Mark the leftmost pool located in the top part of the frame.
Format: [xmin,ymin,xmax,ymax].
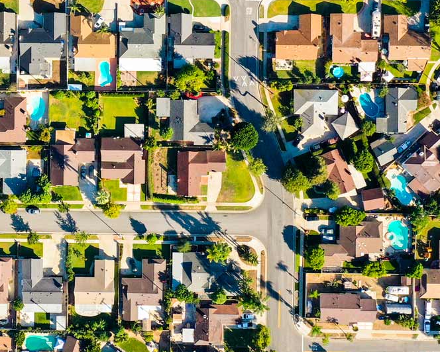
[31,96,47,122]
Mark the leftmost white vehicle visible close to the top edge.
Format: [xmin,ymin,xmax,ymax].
[93,14,106,31]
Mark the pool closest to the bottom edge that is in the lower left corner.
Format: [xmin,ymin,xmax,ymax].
[24,335,55,352]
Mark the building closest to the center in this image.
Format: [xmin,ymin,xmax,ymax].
[178,150,227,196]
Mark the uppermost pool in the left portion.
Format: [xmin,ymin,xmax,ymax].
[98,60,113,86]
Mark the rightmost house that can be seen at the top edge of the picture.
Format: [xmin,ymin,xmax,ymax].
[383,15,433,72]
